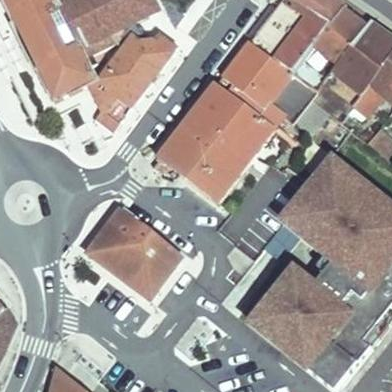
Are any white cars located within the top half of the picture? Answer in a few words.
Yes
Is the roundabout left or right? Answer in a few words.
left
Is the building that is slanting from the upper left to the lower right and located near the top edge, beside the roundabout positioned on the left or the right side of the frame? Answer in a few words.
left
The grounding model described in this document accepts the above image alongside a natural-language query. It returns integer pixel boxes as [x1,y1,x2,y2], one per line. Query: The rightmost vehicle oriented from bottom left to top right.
[270,188,288,208]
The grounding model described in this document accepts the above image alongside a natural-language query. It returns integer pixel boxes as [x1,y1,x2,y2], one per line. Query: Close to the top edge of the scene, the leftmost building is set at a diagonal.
[3,0,99,102]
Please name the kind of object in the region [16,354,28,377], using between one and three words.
vehicle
